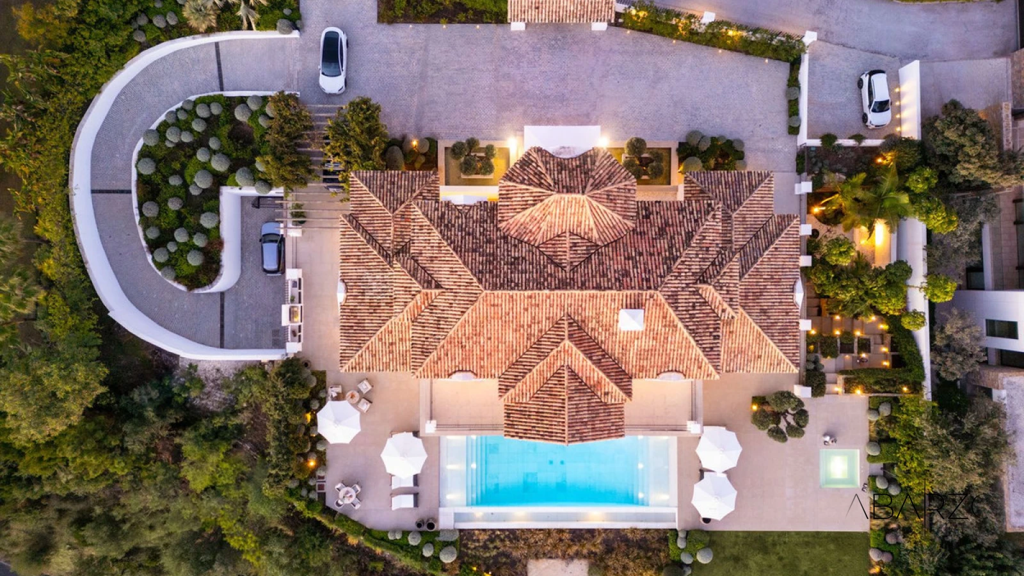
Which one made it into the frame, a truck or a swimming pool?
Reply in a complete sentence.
Of the two, only a swimming pool appears.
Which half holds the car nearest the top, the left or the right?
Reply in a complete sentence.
The car nearest the top sits on the left side.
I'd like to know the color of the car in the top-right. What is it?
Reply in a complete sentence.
In this view, the car in the top-right is white.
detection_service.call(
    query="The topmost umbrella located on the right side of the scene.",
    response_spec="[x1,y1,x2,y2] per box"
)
[695,426,742,473]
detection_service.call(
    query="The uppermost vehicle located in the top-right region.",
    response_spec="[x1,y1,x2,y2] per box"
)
[852,70,892,130]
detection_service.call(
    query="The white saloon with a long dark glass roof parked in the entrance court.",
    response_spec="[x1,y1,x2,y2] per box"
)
[315,29,351,99]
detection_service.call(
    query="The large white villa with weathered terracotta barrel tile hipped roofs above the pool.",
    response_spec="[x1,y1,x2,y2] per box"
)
[338,125,802,447]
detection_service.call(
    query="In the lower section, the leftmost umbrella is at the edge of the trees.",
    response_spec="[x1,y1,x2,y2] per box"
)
[317,401,360,444]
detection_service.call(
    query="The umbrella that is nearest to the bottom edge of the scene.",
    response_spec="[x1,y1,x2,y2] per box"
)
[692,473,737,519]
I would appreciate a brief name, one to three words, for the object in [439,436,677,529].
swimming pool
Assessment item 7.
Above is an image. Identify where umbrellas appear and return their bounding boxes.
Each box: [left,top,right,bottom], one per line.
[317,401,360,444]
[695,426,742,473]
[380,432,427,479]
[692,473,737,519]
